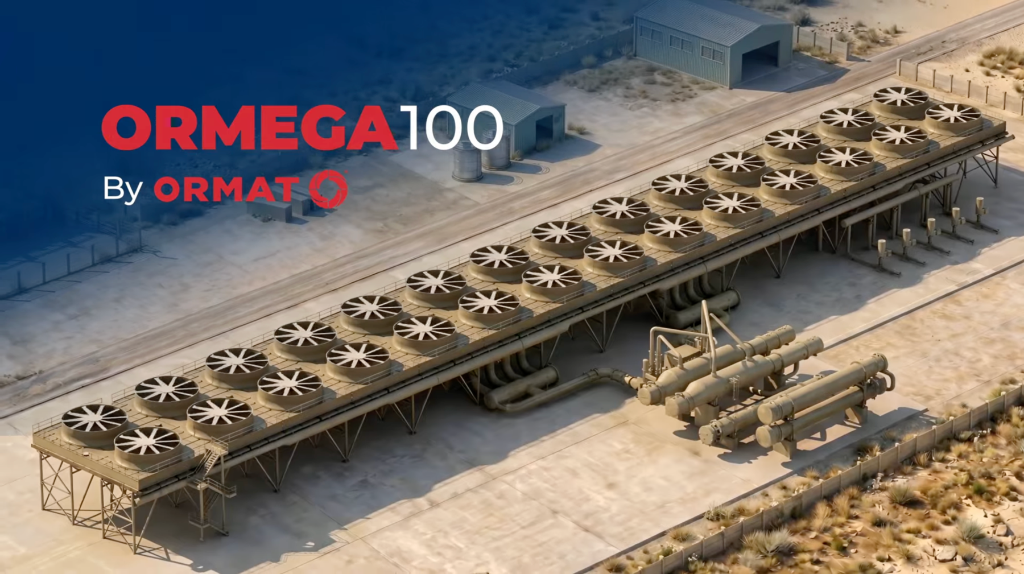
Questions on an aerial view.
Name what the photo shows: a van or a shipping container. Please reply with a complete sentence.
Of the two, only a shipping container appears.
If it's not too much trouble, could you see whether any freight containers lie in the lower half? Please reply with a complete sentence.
No, I can find no freight container in the lower half.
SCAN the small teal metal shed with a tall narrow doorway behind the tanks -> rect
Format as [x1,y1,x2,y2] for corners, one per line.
[446,82,566,158]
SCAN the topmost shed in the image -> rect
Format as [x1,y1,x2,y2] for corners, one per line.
[629,0,797,88]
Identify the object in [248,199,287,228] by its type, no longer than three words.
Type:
shipping container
